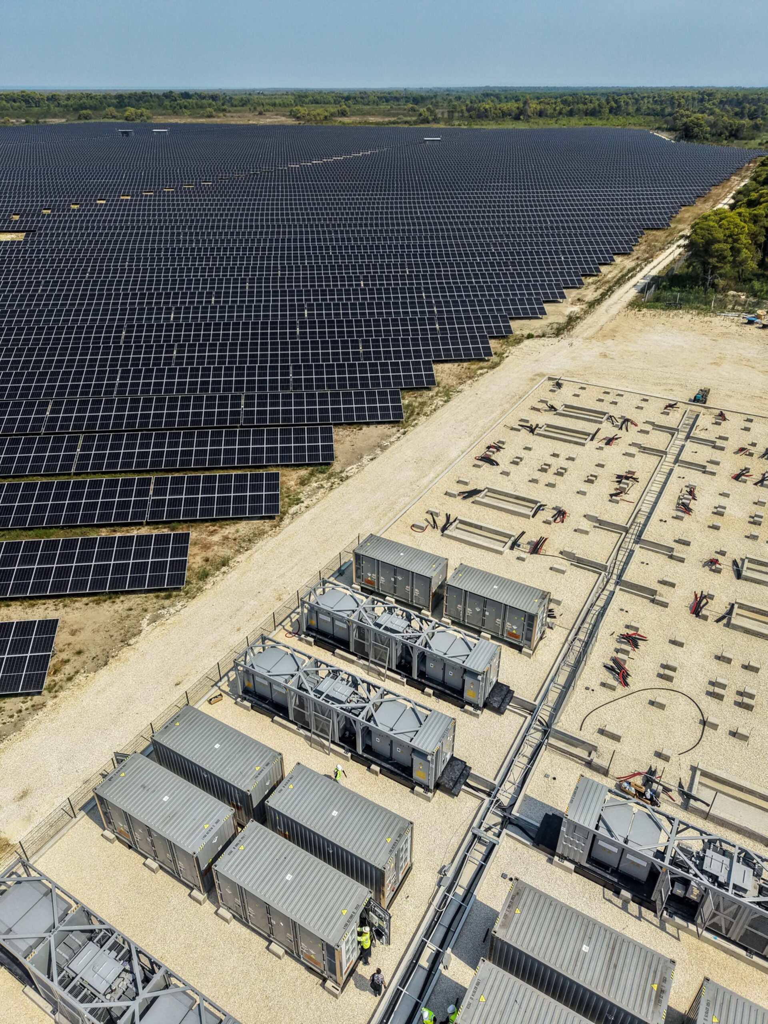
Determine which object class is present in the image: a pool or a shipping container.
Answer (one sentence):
There is a shipping container in the scene.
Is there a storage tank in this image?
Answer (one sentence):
Yes, the picture does show a storage tank.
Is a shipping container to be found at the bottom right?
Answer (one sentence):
Yes, the scene does show a shipping container at the bottom right.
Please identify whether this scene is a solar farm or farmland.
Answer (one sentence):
What you see here is a solar farm.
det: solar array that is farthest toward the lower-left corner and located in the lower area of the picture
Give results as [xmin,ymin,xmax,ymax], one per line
[0,619,59,693]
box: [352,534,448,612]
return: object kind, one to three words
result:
shipping container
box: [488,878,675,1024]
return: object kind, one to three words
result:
shipping container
